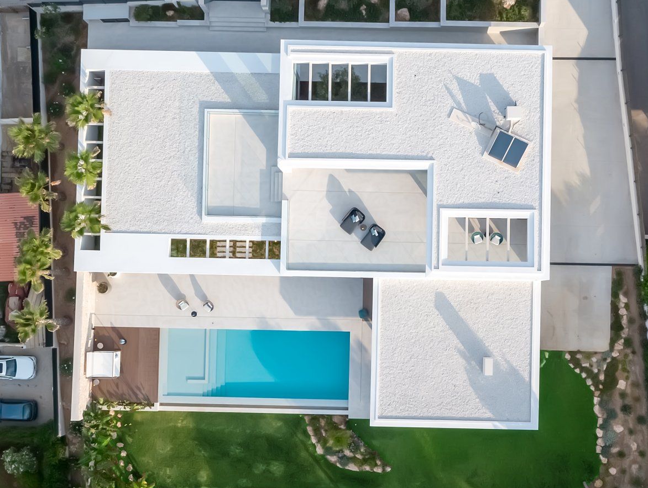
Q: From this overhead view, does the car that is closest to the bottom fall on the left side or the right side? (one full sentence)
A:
It is on the left.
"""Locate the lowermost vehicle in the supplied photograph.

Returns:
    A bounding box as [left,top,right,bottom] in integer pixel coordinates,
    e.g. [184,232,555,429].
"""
[0,397,39,424]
